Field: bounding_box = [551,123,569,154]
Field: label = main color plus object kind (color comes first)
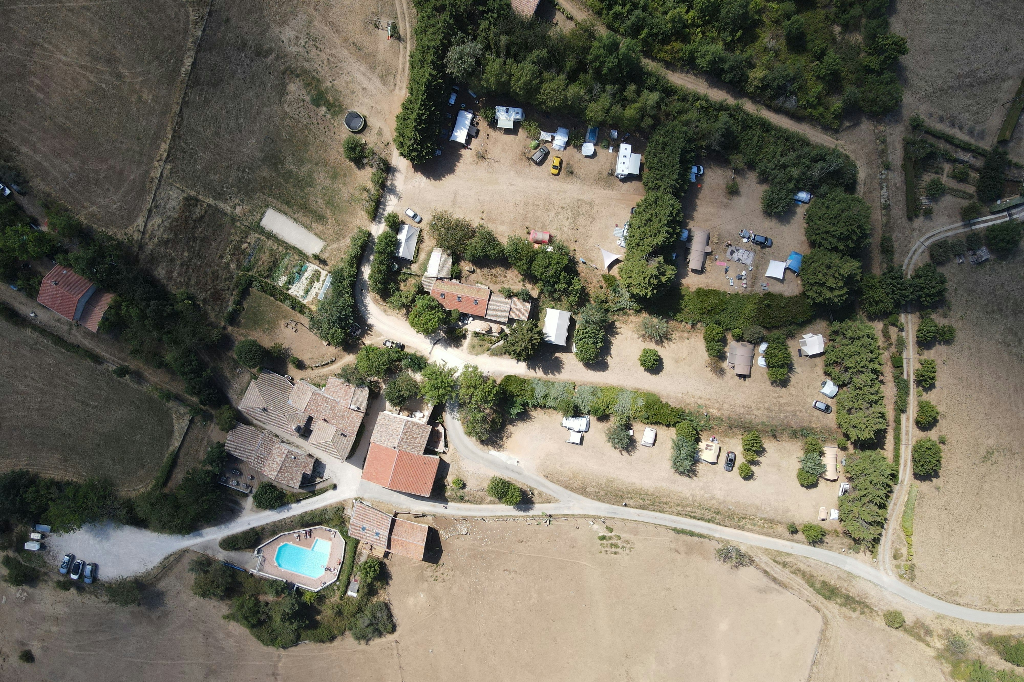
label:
white tent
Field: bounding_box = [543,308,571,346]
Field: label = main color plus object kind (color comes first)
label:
white tent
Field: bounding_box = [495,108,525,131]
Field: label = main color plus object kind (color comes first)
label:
white camper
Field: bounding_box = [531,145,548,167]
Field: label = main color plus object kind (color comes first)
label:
gray car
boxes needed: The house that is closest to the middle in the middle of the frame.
[421,248,531,322]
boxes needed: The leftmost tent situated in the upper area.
[396,224,420,261]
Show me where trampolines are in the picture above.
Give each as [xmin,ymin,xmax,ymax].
[342,108,365,131]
